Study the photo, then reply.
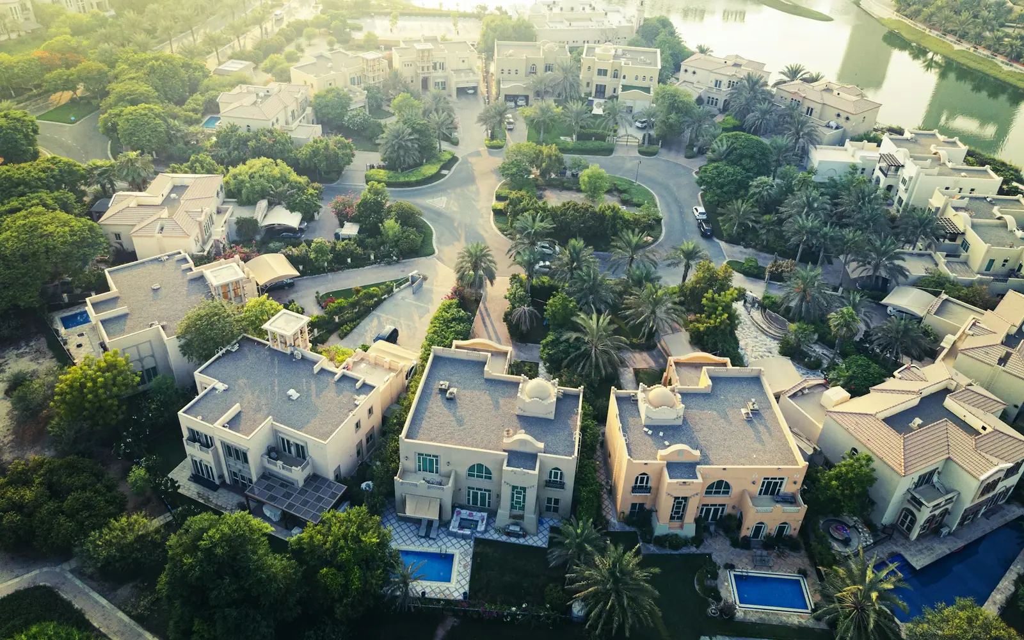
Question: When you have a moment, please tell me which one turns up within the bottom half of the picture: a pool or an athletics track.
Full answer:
Visible within the bottom half of the picture is a pool.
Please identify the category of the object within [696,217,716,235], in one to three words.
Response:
car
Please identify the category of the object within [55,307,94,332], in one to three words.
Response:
swimming pool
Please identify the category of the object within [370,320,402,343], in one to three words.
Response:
car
